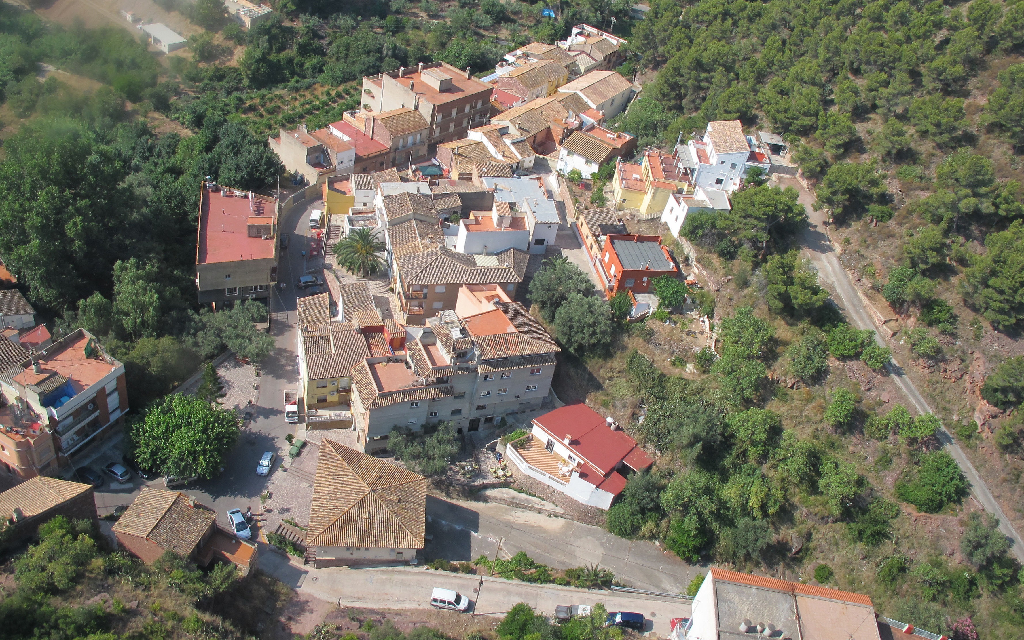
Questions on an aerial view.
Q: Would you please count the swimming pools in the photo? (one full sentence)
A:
There are no swimming pools in this view.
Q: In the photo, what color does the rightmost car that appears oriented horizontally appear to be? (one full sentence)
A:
The rightmost car that appears oriented horizontally looks blue in the image.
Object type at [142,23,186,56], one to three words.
shed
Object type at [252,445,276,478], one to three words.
car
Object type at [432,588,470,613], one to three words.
vehicle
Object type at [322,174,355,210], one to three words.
house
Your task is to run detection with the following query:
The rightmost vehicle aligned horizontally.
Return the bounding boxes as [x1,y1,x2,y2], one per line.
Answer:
[607,609,647,630]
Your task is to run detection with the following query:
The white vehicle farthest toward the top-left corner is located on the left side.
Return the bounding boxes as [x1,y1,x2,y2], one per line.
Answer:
[309,205,325,226]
